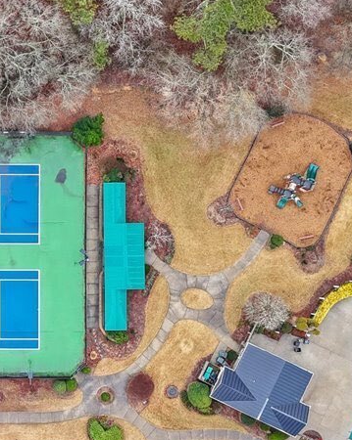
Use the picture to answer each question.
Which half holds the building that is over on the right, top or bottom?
bottom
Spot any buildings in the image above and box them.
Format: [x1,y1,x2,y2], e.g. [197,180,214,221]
[103,182,144,331]
[210,343,313,437]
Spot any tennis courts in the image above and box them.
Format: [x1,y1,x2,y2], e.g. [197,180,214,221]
[0,257,86,375]
[0,133,86,257]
